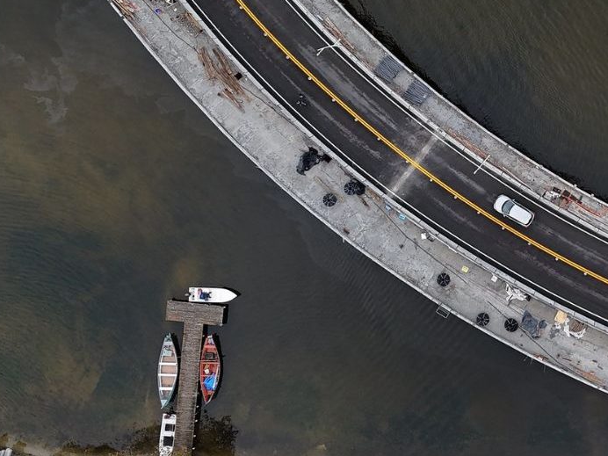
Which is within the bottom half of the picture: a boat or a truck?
boat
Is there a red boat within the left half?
Yes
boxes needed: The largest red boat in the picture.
[199,332,219,406]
